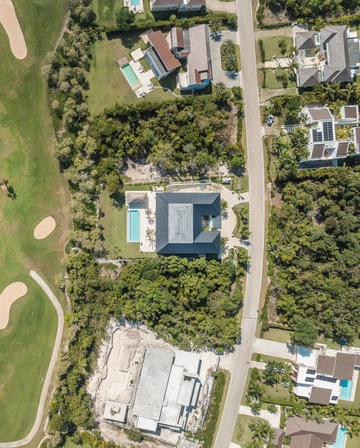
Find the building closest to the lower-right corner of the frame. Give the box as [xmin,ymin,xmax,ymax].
[283,415,339,448]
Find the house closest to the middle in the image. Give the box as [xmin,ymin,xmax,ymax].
[156,193,221,255]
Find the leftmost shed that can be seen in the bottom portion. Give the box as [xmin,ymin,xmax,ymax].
[104,399,128,422]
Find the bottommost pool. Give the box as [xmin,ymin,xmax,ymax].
[334,426,347,448]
